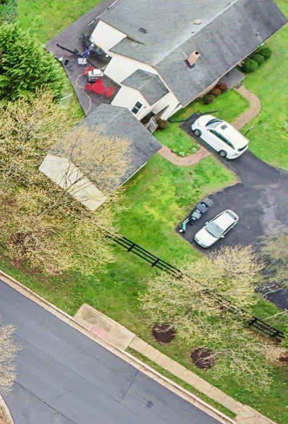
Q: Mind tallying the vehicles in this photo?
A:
two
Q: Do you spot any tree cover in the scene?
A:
Yes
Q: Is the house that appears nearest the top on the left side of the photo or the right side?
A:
right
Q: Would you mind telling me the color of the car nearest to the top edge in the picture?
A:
white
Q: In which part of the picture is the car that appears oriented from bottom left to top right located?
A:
right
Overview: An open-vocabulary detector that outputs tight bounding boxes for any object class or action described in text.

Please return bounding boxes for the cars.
[189,118,248,161]
[190,208,240,250]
